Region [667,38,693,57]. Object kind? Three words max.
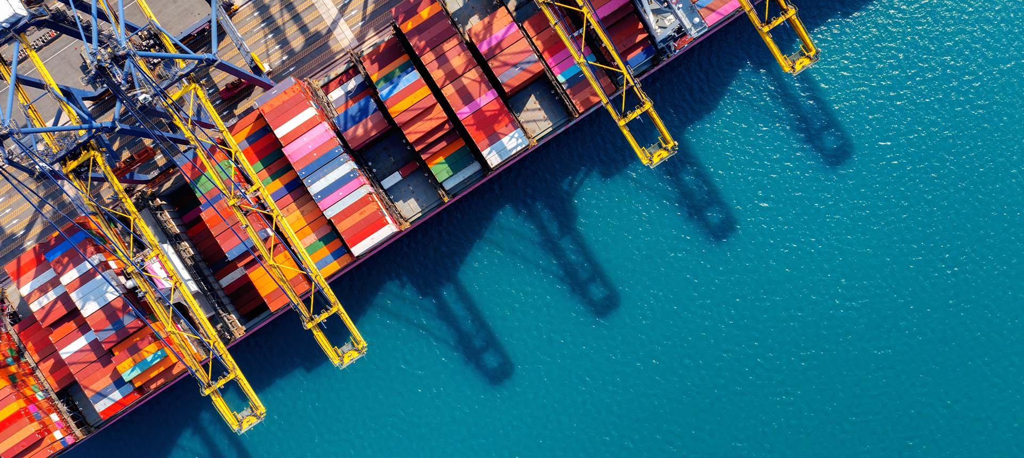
boat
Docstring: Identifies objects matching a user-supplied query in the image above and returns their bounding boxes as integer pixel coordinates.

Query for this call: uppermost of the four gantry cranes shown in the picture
[742,0,823,80]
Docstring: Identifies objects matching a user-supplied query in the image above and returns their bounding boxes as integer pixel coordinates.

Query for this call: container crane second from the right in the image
[535,0,679,174]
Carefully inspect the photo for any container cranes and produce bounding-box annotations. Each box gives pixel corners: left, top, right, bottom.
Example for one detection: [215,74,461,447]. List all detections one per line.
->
[59,0,368,374]
[742,0,823,80]
[535,0,679,174]
[0,0,269,437]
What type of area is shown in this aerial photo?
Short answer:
port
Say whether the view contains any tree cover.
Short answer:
No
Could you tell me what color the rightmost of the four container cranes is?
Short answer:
yellow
